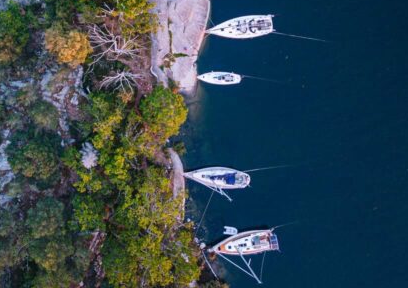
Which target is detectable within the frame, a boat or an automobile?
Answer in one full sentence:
This aerial view contains a boat.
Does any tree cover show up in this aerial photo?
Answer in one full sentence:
Yes, tree cover can be seen from above here.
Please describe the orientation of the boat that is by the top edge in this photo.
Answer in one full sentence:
The boat that is by the top edge is laid out from left to right.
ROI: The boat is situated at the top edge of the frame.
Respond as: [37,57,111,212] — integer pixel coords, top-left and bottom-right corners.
[205,13,276,39]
